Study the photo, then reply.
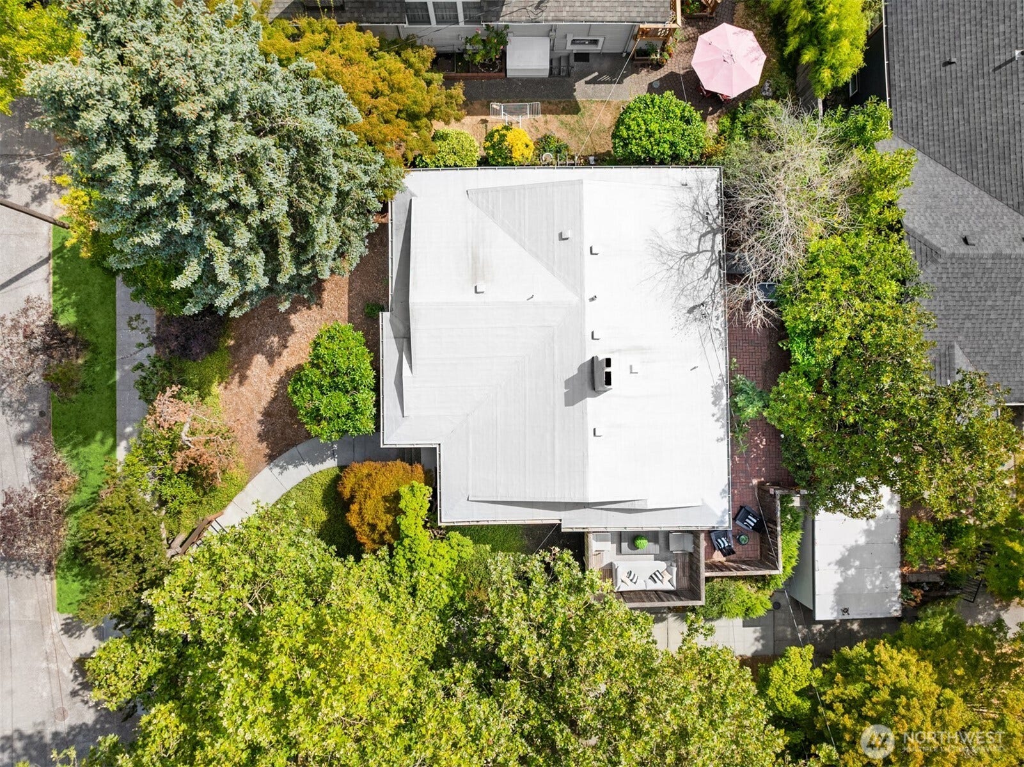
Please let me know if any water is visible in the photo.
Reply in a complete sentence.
No, no water is visible.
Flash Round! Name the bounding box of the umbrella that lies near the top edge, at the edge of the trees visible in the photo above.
[691,23,766,99]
